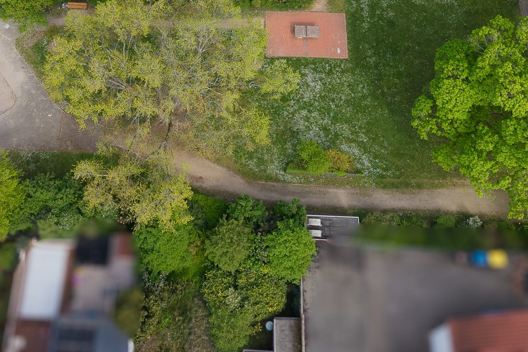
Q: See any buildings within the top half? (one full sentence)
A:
No, I see no building within the top half.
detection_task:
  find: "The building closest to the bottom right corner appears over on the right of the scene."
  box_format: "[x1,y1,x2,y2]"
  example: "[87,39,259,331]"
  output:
[428,310,528,352]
